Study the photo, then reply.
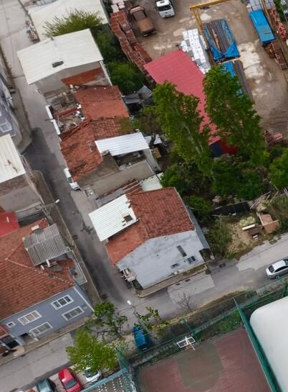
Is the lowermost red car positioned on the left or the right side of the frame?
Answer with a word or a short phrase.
left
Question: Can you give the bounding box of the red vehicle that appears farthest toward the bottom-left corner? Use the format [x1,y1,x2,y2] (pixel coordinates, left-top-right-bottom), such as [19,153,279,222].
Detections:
[57,366,83,392]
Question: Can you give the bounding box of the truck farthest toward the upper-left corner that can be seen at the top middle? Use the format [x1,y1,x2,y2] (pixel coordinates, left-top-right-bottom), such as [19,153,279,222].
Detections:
[126,2,155,36]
